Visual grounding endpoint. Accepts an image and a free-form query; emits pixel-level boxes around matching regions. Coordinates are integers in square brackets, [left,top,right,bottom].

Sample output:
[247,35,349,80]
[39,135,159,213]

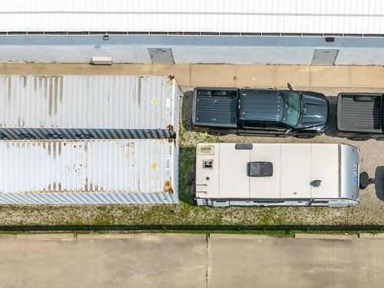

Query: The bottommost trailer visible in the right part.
[192,142,380,208]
